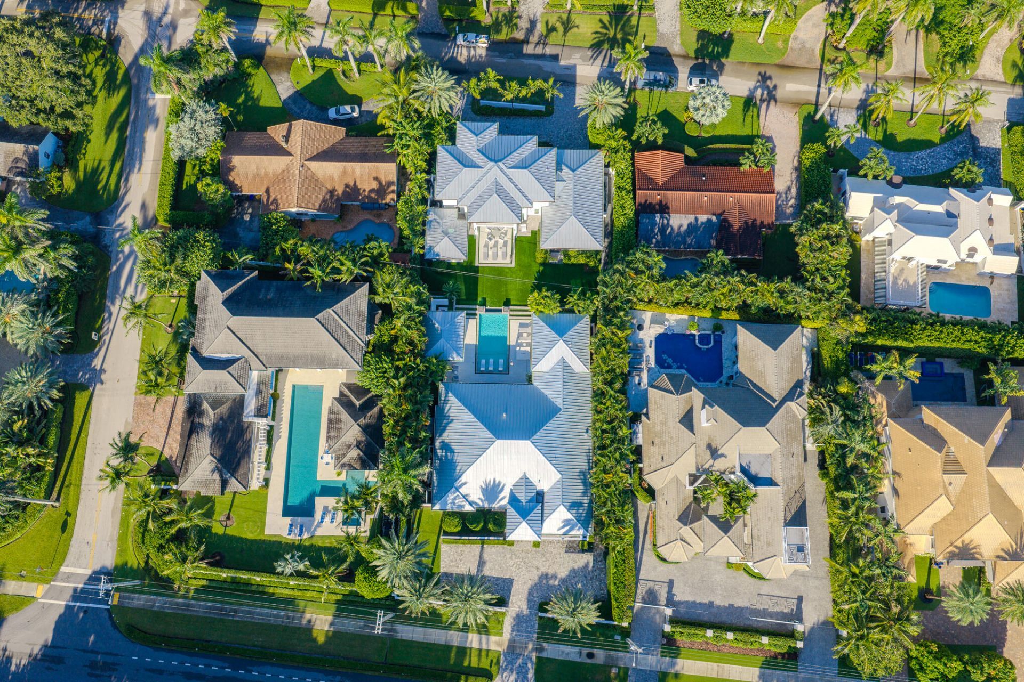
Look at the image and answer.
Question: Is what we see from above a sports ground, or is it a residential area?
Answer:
residential area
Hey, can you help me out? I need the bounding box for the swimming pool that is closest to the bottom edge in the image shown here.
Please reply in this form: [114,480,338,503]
[340,515,363,529]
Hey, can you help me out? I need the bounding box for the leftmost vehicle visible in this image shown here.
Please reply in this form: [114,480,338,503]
[328,104,359,120]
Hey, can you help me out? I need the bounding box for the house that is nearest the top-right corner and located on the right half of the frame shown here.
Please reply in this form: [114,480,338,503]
[839,171,1020,308]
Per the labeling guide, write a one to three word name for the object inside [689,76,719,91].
car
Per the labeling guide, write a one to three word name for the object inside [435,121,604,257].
house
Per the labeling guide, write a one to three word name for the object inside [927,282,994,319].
swimming pool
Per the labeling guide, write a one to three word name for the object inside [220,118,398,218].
house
